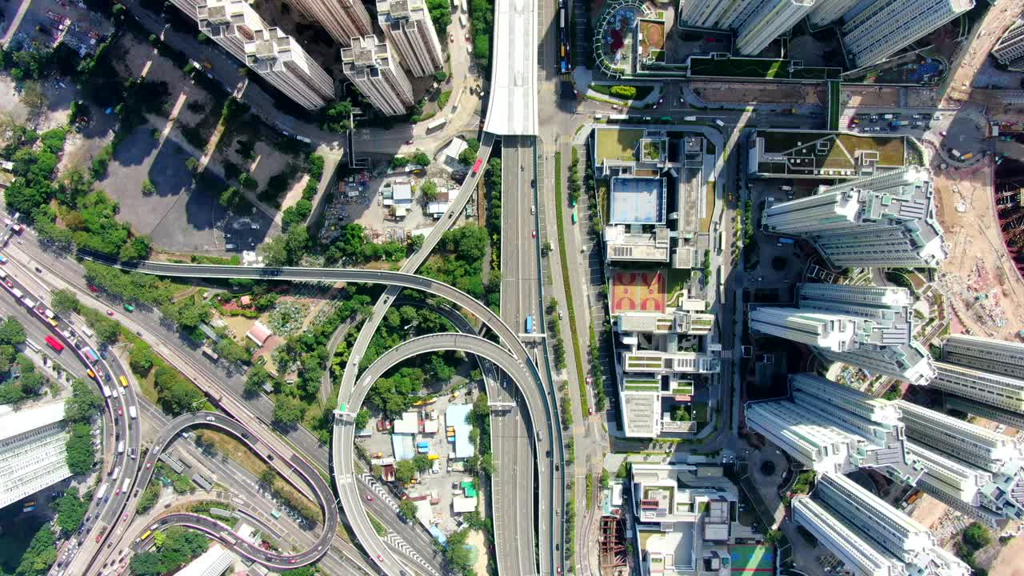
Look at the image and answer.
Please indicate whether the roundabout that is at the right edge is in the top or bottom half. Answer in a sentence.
It is in the top half that the roundabout that is at the right edge appears.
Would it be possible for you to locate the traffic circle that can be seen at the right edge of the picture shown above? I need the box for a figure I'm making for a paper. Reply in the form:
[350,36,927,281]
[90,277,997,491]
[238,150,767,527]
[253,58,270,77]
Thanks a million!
[936,111,993,168]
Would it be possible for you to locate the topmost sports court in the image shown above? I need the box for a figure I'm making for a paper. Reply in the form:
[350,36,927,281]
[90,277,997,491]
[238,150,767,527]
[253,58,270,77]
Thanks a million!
[614,178,657,223]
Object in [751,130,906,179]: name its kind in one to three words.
building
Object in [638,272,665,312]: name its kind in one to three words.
basketball court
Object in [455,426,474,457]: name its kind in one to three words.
shed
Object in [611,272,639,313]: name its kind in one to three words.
basketball court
